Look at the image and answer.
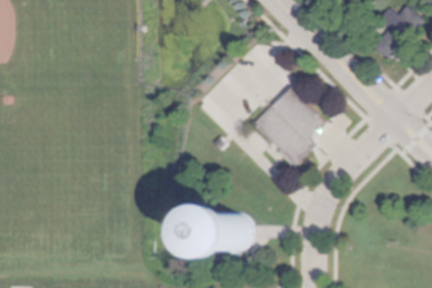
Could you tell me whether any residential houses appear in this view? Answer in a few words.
Yes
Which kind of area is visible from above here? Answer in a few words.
sports ground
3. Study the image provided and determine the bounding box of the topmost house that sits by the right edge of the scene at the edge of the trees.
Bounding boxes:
[384,3,428,28]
